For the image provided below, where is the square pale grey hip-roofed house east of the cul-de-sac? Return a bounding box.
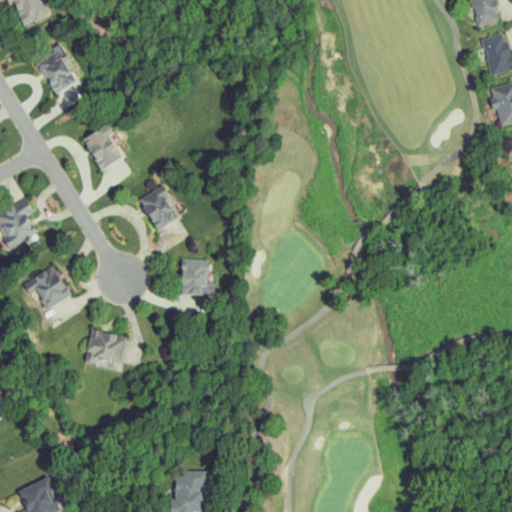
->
[180,258,214,296]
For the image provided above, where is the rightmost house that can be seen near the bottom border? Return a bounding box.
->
[170,472,206,512]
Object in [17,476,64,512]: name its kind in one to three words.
house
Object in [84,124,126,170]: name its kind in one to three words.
house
